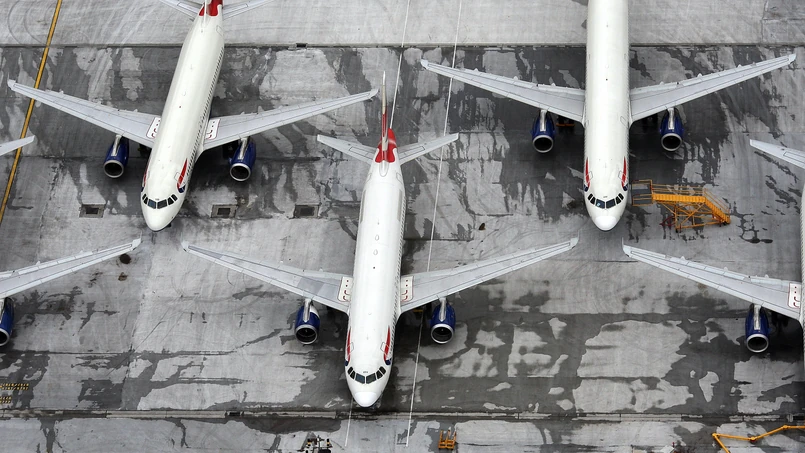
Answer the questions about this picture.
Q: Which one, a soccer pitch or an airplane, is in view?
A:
airplane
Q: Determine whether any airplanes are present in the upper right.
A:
Yes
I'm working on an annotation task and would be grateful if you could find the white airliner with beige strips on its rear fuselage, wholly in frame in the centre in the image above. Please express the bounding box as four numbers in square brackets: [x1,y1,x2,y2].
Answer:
[185,74,575,408]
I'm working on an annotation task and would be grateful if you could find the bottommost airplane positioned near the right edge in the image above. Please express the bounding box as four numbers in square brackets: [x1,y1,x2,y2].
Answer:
[627,137,805,350]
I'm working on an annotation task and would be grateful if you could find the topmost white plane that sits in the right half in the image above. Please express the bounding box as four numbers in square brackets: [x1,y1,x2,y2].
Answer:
[425,0,792,233]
